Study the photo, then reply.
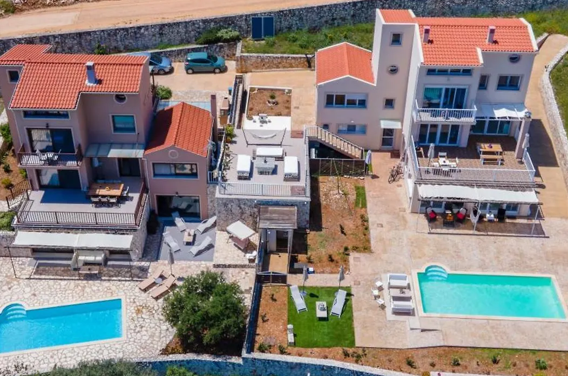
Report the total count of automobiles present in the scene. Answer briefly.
2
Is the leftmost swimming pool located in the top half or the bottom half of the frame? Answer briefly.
bottom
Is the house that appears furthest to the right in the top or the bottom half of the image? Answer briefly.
top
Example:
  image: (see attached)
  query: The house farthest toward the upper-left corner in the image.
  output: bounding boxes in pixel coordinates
[0,42,223,255]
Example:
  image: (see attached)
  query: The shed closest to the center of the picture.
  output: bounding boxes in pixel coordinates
[257,205,300,248]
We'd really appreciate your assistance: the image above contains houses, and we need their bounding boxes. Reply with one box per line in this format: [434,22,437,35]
[311,8,550,214]
[0,42,223,255]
